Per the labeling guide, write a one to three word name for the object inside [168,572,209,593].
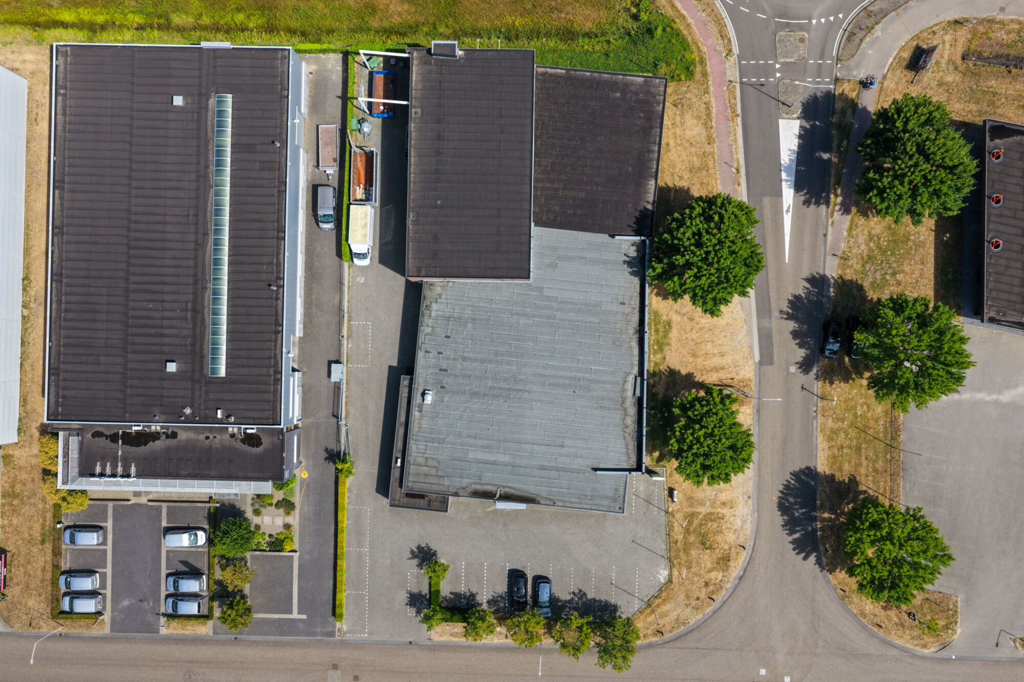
car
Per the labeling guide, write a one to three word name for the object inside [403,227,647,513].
building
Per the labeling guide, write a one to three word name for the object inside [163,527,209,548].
vehicle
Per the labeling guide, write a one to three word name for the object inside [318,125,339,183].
trailer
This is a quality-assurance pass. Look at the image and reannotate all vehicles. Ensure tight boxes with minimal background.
[61,570,103,591]
[509,570,529,613]
[820,319,843,360]
[63,592,105,614]
[166,595,208,616]
[316,185,337,231]
[163,527,209,548]
[65,526,107,546]
[534,575,554,617]
[168,572,209,593]
[348,204,374,268]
